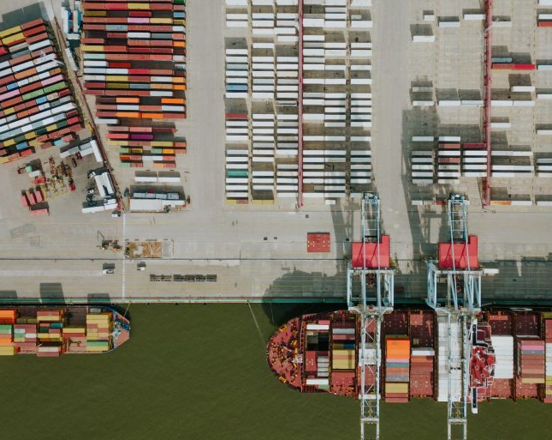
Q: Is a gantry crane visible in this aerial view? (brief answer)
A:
Yes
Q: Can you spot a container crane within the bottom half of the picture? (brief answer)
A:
Yes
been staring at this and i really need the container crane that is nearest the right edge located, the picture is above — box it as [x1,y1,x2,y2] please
[416,194,499,440]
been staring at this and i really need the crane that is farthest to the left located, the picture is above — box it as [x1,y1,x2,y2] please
[338,193,397,440]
